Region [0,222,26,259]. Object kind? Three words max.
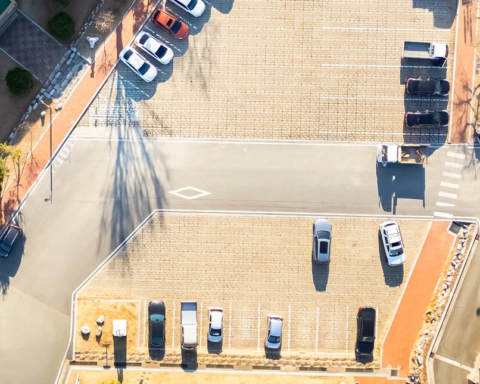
car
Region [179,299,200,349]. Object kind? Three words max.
truck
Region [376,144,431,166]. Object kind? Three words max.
truck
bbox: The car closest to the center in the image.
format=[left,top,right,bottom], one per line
[313,219,334,263]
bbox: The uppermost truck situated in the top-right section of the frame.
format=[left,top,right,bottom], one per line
[401,40,451,63]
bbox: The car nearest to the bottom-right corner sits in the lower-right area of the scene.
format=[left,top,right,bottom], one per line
[356,306,377,355]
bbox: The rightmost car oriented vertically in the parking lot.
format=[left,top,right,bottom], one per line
[380,220,405,267]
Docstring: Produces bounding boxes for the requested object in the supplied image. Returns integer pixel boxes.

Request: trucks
[376,144,431,166]
[401,40,451,63]
[179,299,200,349]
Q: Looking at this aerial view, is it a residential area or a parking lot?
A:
parking lot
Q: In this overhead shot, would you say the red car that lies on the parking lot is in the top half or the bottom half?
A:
top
